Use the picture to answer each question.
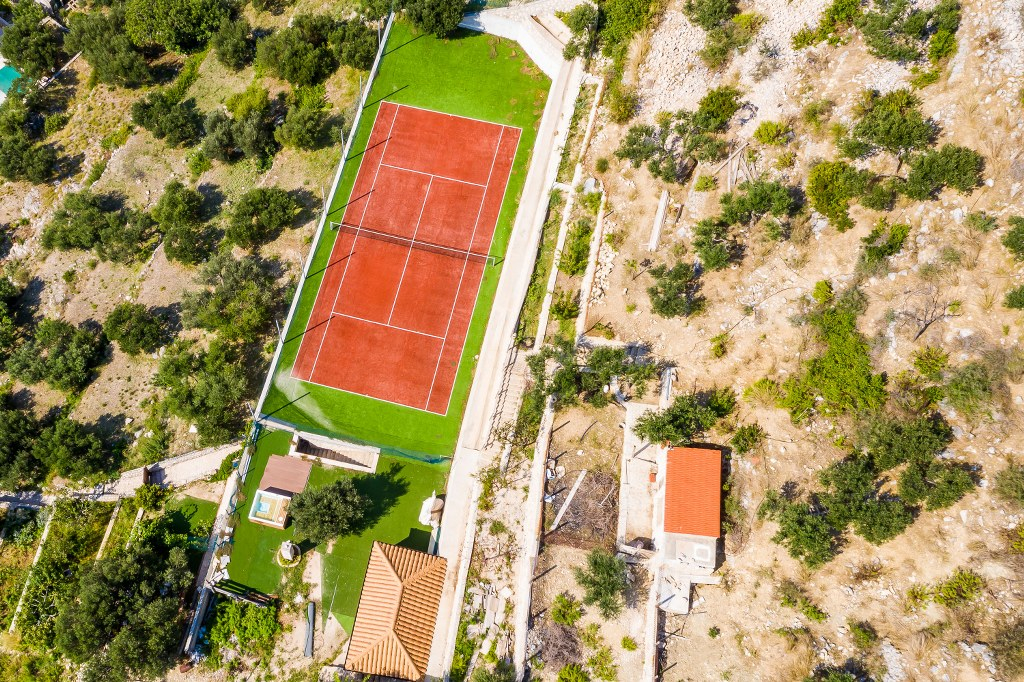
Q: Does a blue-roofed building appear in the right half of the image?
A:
No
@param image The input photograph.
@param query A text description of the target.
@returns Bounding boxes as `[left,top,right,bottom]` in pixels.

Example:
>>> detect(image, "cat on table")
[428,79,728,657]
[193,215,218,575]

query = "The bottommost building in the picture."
[343,538,448,682]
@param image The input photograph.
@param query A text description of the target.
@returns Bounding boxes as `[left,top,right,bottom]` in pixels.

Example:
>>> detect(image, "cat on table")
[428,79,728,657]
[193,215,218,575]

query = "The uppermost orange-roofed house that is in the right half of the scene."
[650,435,722,576]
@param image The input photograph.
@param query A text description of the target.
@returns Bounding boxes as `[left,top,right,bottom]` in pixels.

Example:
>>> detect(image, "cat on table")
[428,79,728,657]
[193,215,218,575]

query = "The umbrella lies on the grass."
[415,493,434,522]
